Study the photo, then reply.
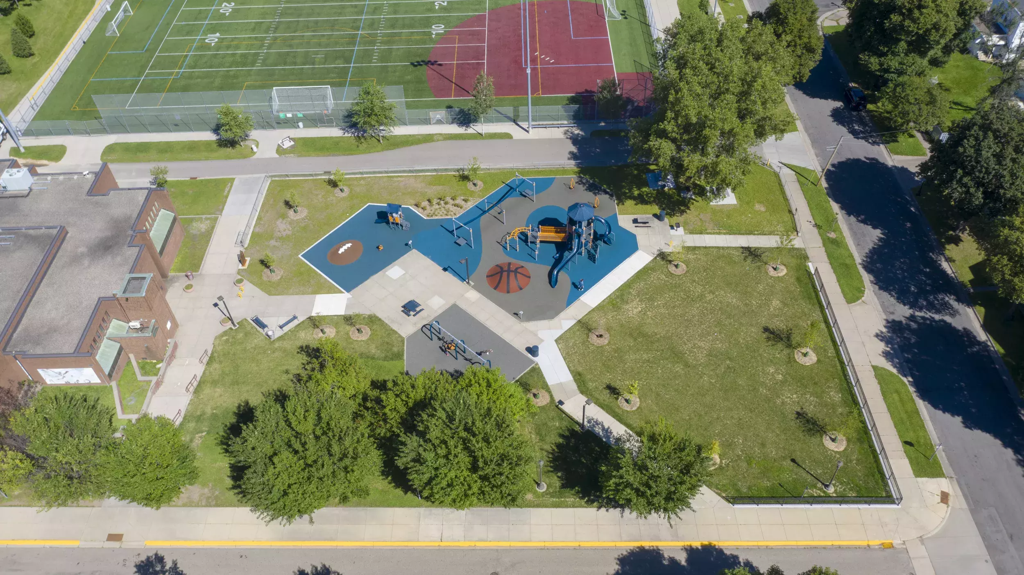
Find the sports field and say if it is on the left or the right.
left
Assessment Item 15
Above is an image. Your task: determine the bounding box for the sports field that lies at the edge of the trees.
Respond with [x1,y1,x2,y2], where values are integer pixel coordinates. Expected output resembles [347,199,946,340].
[22,0,663,134]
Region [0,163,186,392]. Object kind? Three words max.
building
